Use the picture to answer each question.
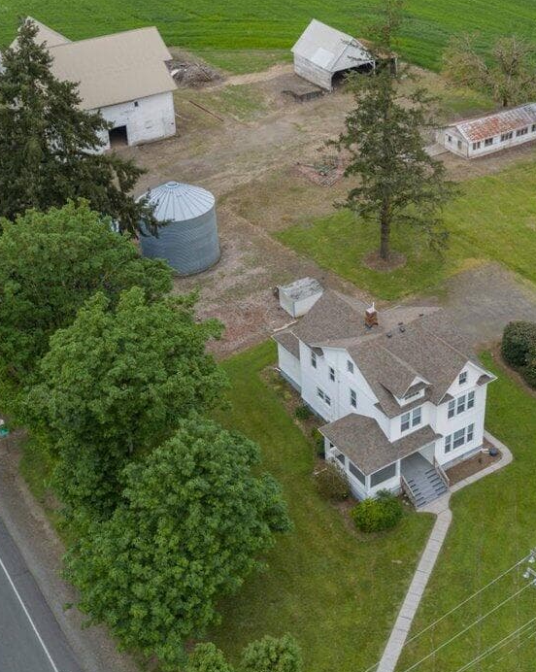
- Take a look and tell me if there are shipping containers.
No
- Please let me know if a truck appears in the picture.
No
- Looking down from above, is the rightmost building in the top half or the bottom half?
top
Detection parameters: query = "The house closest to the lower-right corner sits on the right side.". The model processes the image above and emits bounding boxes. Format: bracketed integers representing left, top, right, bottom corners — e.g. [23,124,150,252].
[270,289,495,509]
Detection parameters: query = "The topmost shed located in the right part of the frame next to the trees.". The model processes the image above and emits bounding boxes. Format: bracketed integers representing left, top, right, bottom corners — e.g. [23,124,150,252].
[291,22,402,90]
